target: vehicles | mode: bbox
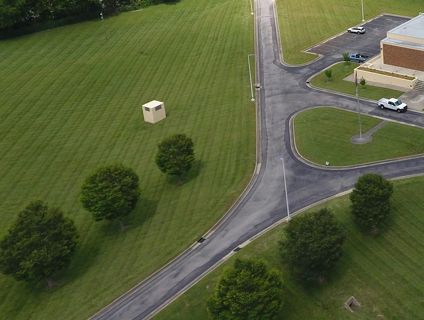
[349,25,370,34]
[377,97,411,113]
[348,50,373,63]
